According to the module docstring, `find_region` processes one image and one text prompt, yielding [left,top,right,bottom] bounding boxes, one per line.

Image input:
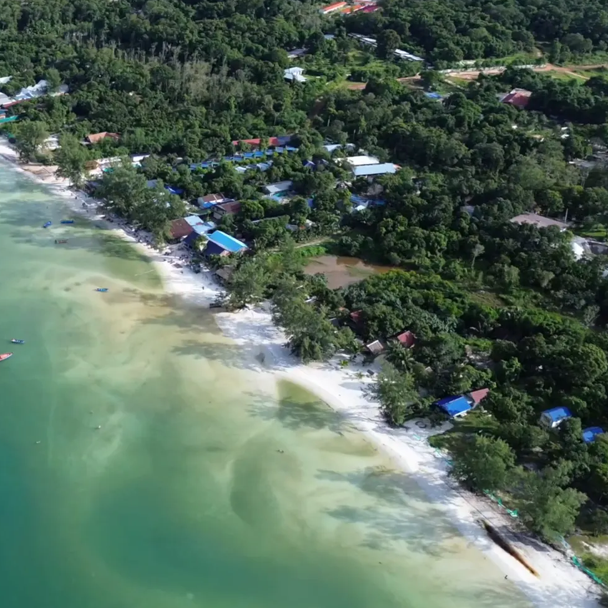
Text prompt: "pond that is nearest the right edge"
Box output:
[304,256,403,290]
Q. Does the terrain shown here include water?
Yes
